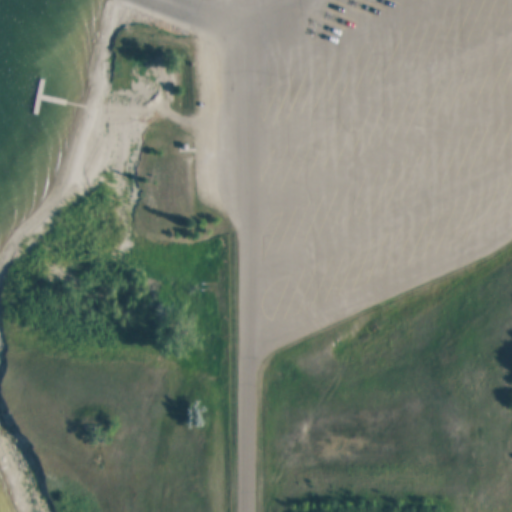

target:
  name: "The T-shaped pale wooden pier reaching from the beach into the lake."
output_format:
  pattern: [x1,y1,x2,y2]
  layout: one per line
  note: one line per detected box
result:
[34,80,91,116]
